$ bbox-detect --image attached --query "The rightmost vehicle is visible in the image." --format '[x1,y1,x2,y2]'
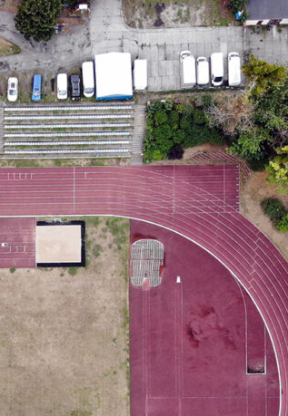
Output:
[224,57,239,88]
